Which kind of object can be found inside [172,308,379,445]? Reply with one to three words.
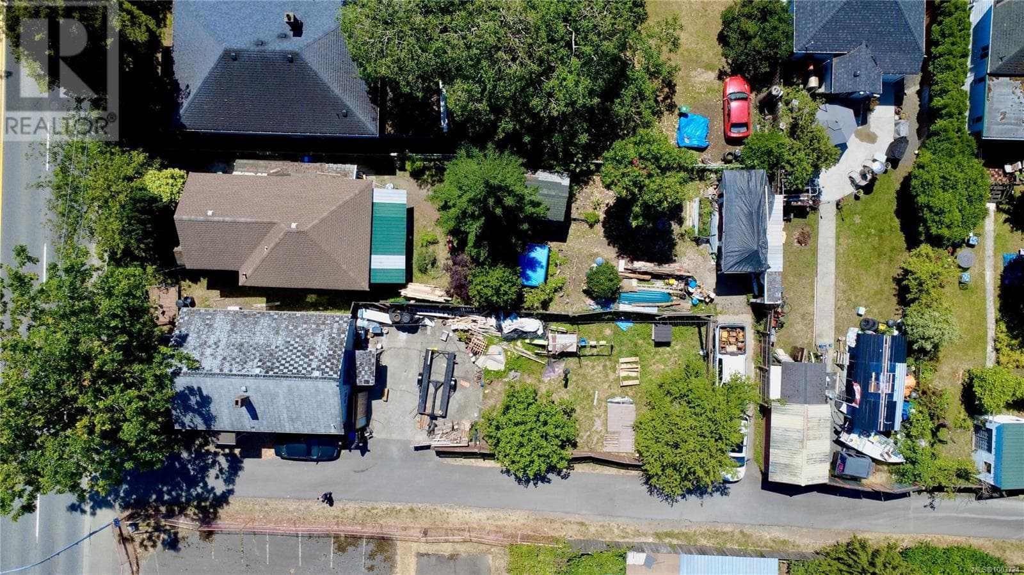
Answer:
house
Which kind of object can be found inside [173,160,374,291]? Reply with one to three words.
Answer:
house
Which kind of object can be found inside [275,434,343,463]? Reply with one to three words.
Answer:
car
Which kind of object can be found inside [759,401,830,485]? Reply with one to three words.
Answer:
shed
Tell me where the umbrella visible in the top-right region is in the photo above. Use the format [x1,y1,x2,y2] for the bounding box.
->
[817,104,857,147]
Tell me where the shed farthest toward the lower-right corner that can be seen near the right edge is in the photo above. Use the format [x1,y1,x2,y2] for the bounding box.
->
[973,416,1024,490]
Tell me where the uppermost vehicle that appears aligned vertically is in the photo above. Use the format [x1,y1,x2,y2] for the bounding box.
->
[720,77,753,142]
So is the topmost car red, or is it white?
red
